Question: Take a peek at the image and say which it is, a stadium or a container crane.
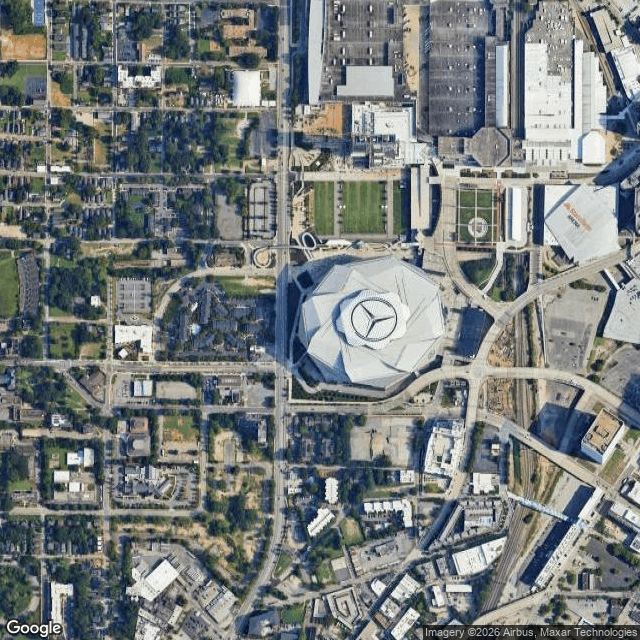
stadium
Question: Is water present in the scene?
No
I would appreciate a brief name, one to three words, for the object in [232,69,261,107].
building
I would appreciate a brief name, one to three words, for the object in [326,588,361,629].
building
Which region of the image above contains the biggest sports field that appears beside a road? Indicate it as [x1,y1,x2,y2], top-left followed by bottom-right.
[341,182,385,235]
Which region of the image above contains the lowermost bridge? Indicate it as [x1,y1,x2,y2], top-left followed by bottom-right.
[462,584,566,640]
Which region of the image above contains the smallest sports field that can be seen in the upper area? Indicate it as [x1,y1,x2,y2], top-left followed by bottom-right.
[314,182,333,235]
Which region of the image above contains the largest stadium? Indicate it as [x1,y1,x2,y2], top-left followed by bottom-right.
[298,256,444,399]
